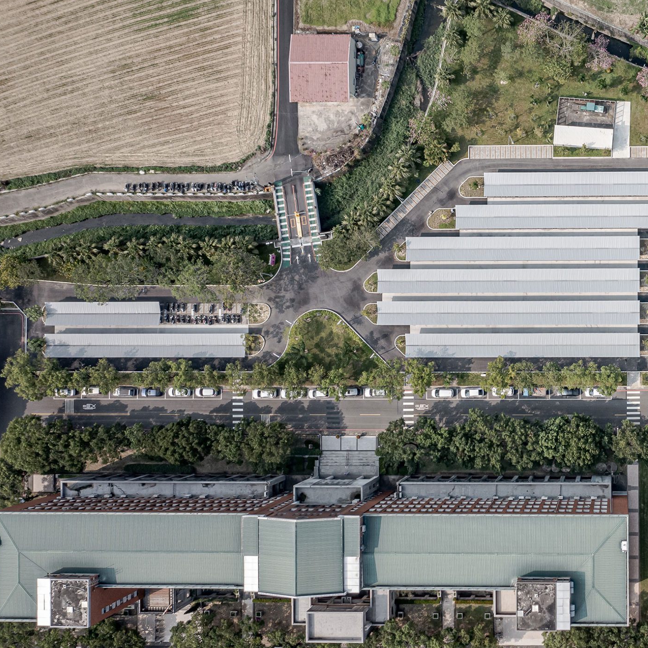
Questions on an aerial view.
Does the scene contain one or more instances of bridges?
Yes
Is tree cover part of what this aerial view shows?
Yes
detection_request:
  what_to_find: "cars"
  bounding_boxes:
[59,388,75,397]
[494,388,514,396]
[309,389,330,398]
[168,388,190,396]
[338,387,360,397]
[461,388,484,396]
[142,388,161,396]
[556,388,579,396]
[113,387,136,397]
[253,389,276,398]
[281,389,302,398]
[81,387,101,396]
[584,389,606,397]
[196,387,217,397]
[366,389,387,398]
[432,388,453,398]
